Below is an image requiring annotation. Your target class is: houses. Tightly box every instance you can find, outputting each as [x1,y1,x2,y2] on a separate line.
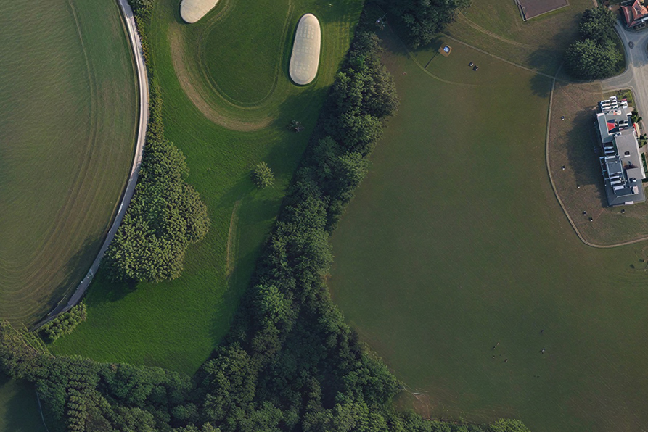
[620,0,648,29]
[594,107,647,206]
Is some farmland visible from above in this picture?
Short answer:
Yes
